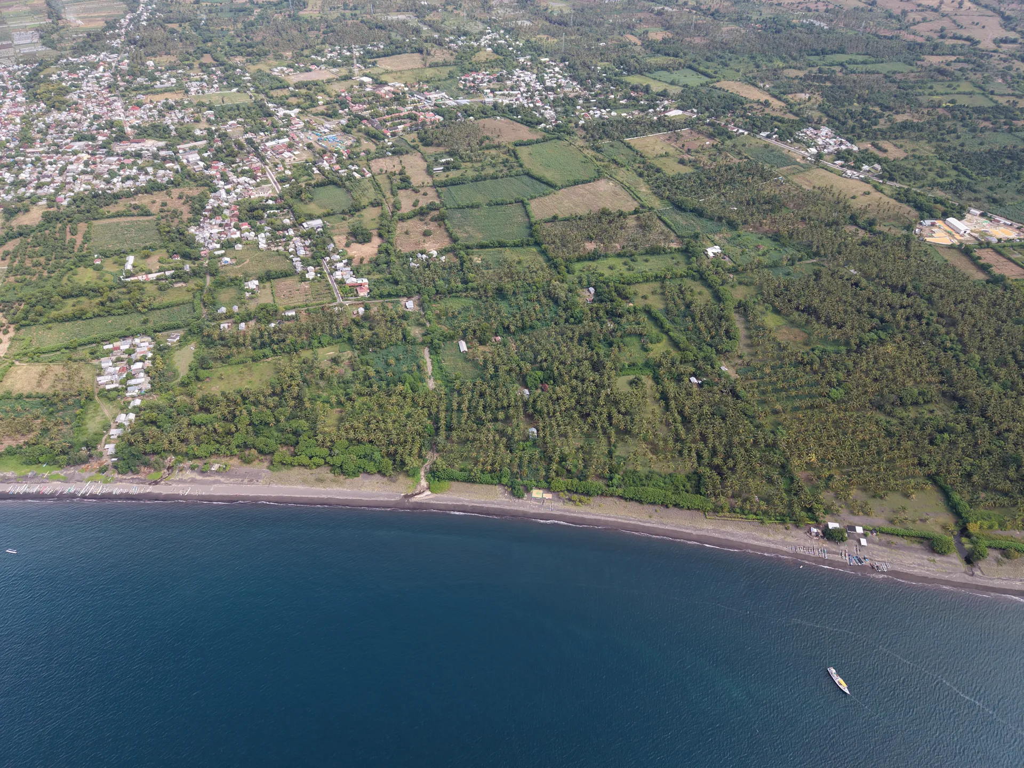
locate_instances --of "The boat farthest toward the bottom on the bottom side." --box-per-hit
[827,668,850,695]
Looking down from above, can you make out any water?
Yes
